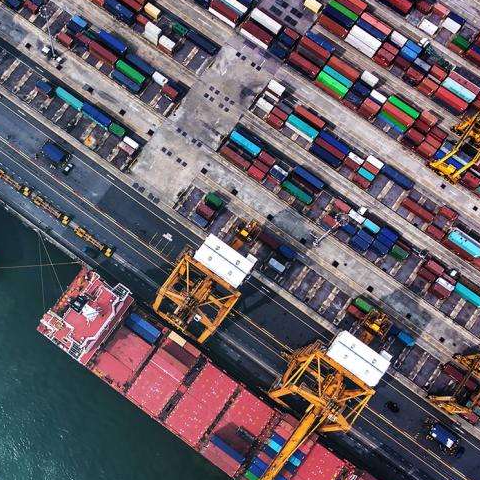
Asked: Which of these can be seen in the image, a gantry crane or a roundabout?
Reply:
gantry crane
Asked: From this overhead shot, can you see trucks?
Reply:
Yes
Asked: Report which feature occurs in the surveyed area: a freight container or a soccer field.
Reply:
freight container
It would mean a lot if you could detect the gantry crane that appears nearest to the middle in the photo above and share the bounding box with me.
[151,233,259,345]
